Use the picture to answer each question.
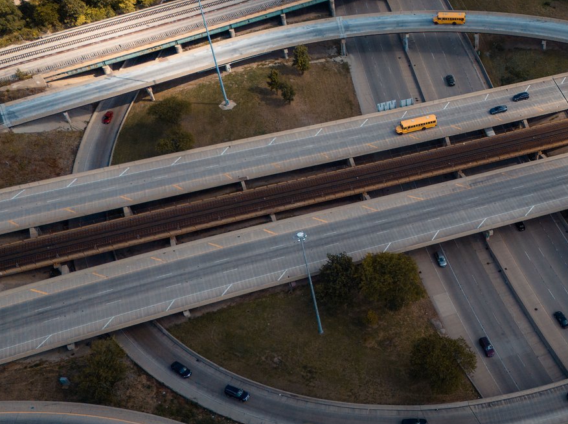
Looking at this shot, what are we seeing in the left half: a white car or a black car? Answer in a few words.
black car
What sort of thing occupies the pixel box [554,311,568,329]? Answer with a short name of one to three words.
car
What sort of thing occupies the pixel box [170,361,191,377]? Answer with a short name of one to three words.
car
